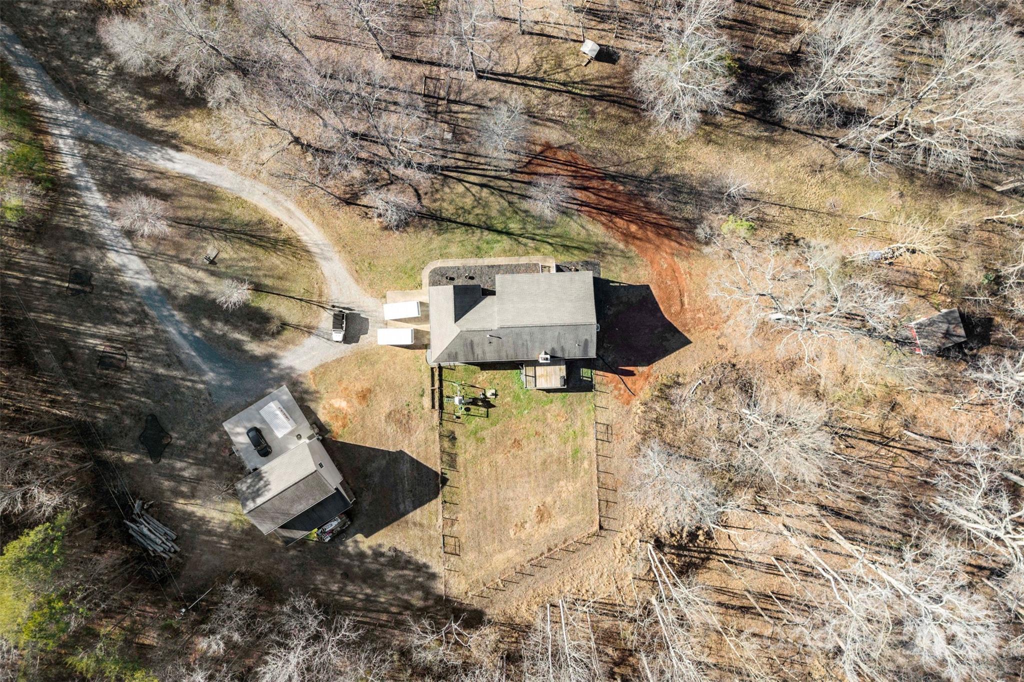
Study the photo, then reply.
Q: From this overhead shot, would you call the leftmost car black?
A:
Yes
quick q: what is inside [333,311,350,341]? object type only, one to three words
car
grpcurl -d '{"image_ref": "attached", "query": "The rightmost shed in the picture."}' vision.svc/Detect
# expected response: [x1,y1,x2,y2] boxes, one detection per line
[903,308,966,355]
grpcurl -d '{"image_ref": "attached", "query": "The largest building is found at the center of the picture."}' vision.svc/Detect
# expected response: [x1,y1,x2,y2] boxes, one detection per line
[429,263,600,388]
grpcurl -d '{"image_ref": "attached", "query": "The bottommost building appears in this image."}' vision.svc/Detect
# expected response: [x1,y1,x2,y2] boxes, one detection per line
[237,440,356,546]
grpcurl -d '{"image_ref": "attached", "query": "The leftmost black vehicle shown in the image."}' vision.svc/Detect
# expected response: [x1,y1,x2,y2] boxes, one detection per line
[247,425,271,458]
